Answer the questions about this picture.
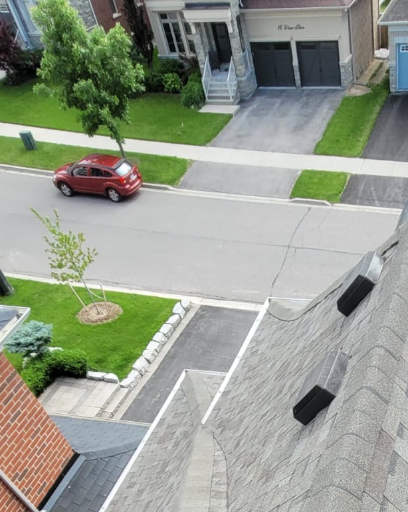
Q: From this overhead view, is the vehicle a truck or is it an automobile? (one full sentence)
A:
It looks like the vehicle is an automobile.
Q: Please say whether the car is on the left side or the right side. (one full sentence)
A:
You can find the car on the left side of the picture.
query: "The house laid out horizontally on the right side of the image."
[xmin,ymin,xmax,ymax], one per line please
[138,0,388,109]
